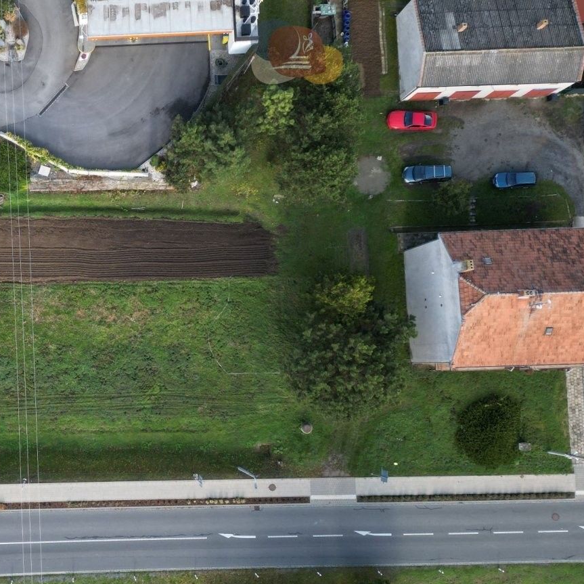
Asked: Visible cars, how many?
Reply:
3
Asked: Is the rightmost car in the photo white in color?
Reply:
No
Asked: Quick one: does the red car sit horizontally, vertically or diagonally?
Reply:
horizontally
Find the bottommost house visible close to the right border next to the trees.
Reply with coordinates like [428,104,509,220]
[403,230,584,368]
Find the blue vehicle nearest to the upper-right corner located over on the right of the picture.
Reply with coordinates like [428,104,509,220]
[493,167,542,190]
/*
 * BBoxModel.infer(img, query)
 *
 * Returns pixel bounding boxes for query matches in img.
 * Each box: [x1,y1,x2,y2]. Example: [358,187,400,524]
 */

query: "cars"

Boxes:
[402,162,456,185]
[386,106,439,131]
[493,167,542,190]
